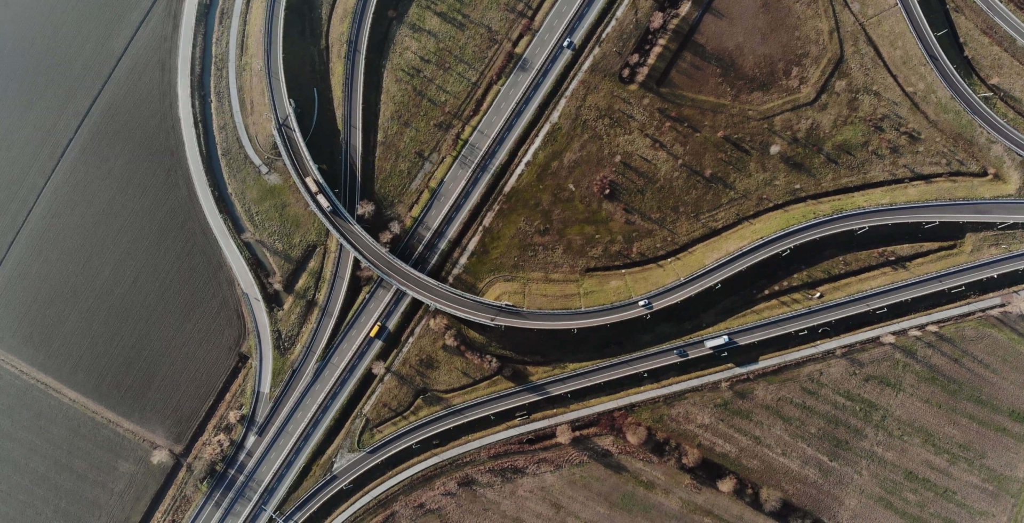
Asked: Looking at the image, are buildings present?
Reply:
No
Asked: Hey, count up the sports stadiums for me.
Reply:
0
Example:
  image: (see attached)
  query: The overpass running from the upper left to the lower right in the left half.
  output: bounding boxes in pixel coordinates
[272,110,504,325]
